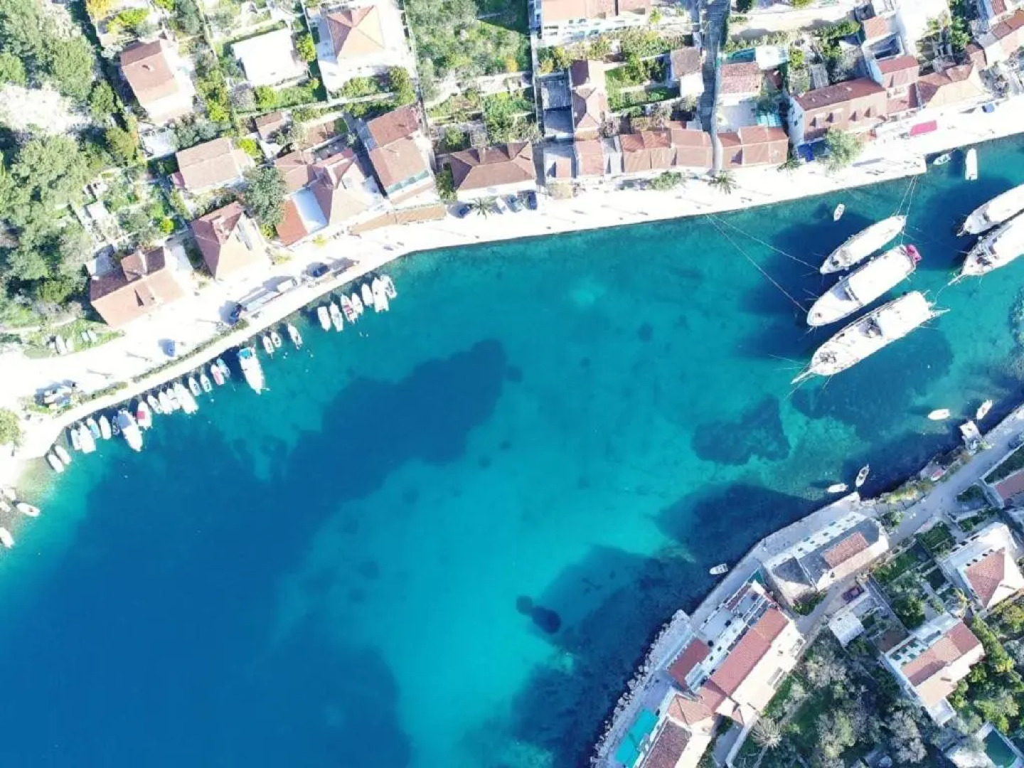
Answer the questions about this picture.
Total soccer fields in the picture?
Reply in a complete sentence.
There are no soccer fields in this view.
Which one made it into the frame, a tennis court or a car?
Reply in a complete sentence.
The one in the frame is a car.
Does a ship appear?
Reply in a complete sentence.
Yes, looking at the shot, I can spot a ship.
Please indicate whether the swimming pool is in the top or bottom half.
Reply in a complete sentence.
It is in the bottom half that the swimming pool appears.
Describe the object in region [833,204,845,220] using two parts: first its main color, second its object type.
white boat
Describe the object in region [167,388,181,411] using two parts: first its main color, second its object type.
white boat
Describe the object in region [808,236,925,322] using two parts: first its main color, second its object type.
white ship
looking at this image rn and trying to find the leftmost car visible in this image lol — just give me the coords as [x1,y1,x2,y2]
[164,338,176,357]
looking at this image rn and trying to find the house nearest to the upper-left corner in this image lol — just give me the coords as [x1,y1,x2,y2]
[120,40,195,128]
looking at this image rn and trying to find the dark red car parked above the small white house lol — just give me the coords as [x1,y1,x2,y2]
[843,584,863,602]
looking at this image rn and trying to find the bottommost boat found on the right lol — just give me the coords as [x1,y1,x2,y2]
[709,562,727,574]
